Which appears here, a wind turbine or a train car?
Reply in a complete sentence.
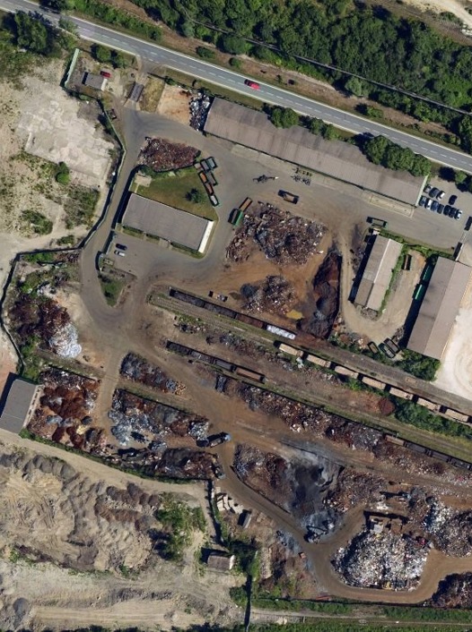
This aerial view contains a train car.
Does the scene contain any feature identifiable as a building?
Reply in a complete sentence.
Yes, I can see a building in this picture.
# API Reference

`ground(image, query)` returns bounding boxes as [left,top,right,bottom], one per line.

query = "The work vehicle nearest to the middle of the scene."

[211,291,231,303]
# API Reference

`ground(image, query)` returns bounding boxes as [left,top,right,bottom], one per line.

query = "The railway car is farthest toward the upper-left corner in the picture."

[168,287,206,308]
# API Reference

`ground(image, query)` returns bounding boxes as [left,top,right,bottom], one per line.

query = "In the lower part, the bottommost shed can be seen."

[208,552,233,569]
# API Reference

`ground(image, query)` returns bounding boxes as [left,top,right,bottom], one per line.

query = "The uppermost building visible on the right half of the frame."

[204,98,429,207]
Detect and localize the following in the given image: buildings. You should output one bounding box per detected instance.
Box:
[121,193,219,253]
[204,98,429,207]
[208,552,233,569]
[407,257,472,359]
[0,377,43,435]
[353,235,405,311]
[85,73,110,91]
